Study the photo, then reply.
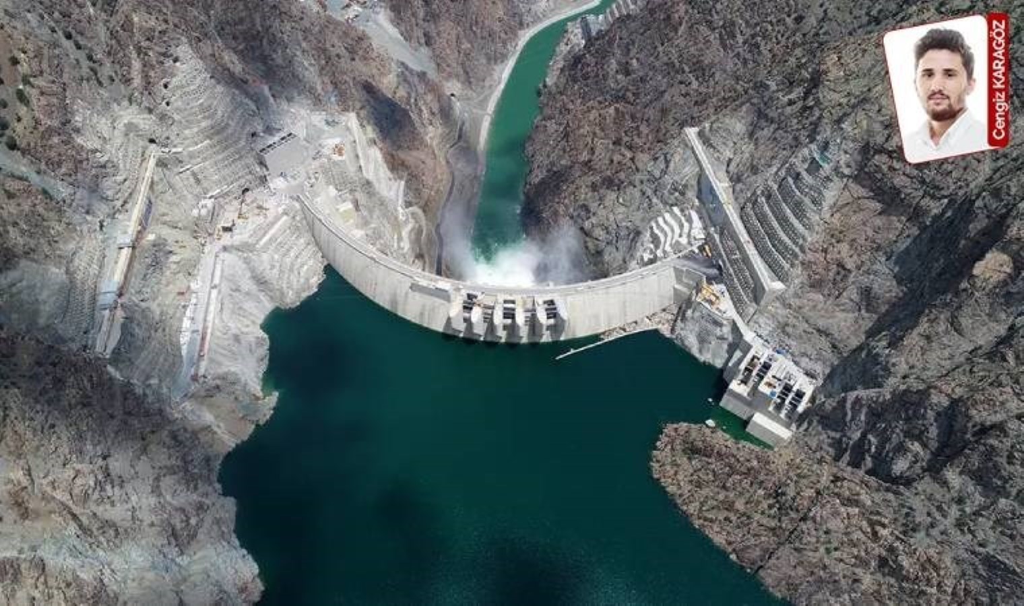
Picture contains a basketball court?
No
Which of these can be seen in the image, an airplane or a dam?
dam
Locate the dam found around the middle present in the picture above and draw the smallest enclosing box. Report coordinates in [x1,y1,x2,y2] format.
[295,197,707,343]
